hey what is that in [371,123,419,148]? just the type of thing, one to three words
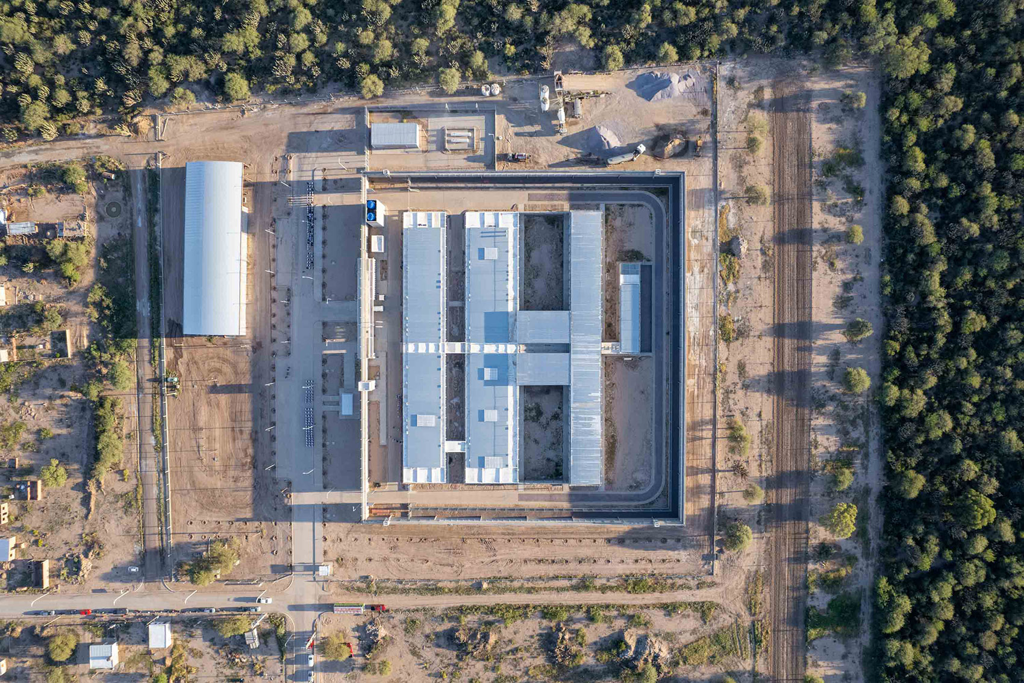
building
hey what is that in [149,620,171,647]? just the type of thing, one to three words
house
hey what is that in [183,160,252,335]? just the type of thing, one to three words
building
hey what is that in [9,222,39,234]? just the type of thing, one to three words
shed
